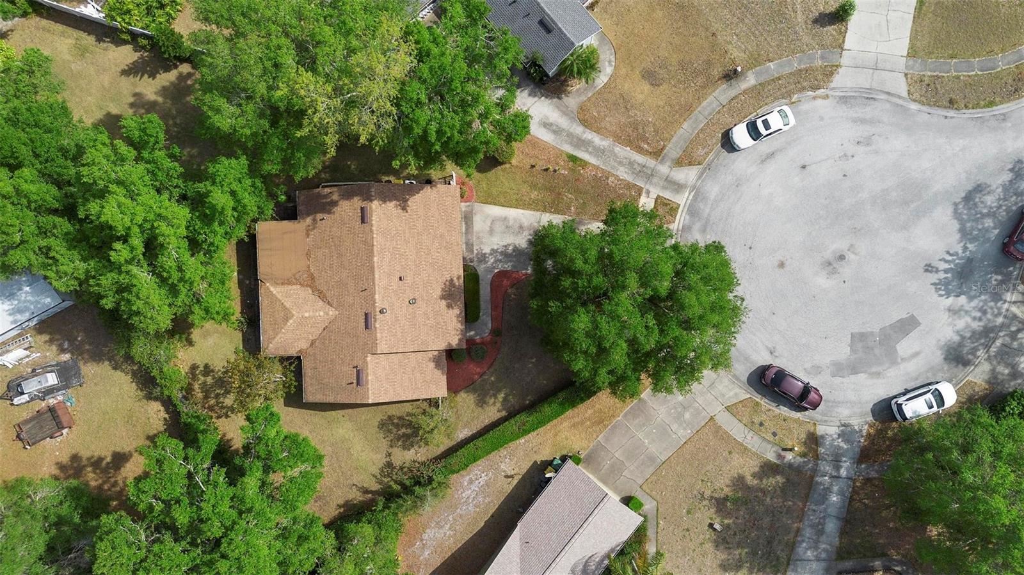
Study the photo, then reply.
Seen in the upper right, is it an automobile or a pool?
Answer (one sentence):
What appears in the upper right is an automobile.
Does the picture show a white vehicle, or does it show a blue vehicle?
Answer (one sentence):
There is a white vehicle in the scene.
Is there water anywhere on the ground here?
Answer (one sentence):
No, there's no water in this view.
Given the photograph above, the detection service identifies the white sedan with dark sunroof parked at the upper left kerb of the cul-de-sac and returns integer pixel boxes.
[729,106,796,152]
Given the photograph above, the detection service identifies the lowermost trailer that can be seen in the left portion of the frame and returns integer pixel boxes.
[9,401,74,447]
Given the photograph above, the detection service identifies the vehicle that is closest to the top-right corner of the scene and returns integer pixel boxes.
[1000,204,1024,260]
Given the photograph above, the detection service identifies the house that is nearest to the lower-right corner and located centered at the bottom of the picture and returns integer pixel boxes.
[466,458,645,575]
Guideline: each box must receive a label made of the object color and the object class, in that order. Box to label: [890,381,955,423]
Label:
white car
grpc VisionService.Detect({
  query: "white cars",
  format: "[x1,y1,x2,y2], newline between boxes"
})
[729,106,796,152]
[890,381,955,423]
